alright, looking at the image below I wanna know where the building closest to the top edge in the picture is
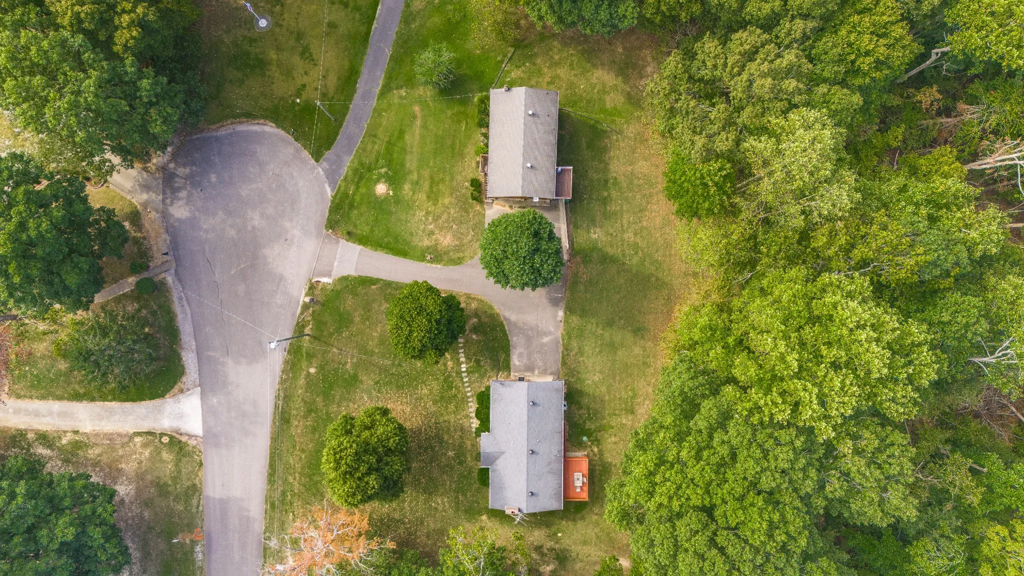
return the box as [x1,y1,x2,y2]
[480,86,560,207]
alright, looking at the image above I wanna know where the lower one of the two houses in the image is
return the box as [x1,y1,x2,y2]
[481,380,565,531]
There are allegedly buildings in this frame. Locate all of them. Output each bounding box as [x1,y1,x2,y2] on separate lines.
[481,380,565,531]
[480,86,560,207]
